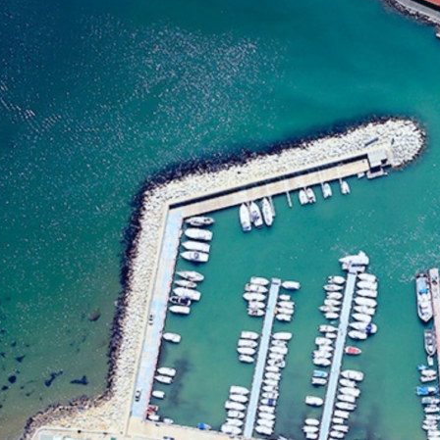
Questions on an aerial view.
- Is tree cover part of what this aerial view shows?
No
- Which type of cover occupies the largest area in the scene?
water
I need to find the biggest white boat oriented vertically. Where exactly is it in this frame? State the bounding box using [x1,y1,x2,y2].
[416,274,431,323]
